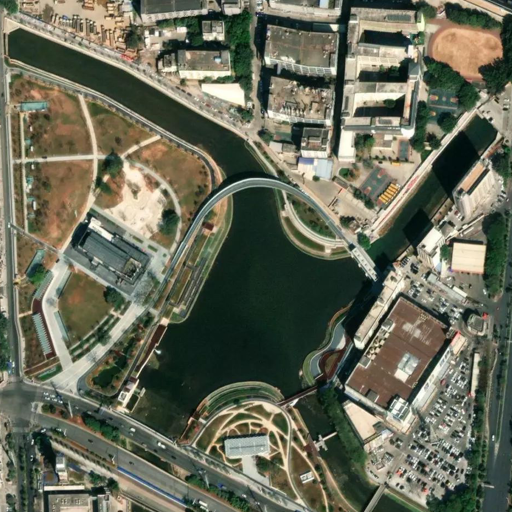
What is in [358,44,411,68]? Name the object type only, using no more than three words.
building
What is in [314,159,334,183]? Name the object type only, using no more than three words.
building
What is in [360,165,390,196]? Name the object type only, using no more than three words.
basketball court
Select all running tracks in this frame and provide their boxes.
[427,20,510,85]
